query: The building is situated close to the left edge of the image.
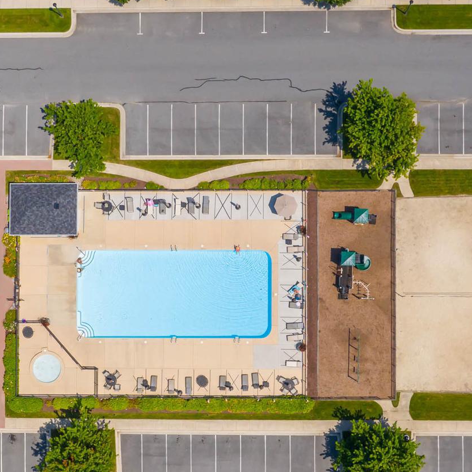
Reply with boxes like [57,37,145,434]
[9,183,81,237]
